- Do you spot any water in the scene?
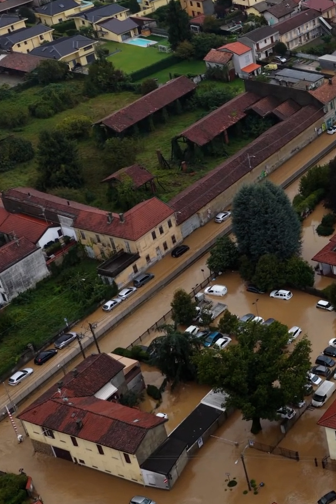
Yes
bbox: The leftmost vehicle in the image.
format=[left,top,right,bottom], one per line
[4,368,36,386]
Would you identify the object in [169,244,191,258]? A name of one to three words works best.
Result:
car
